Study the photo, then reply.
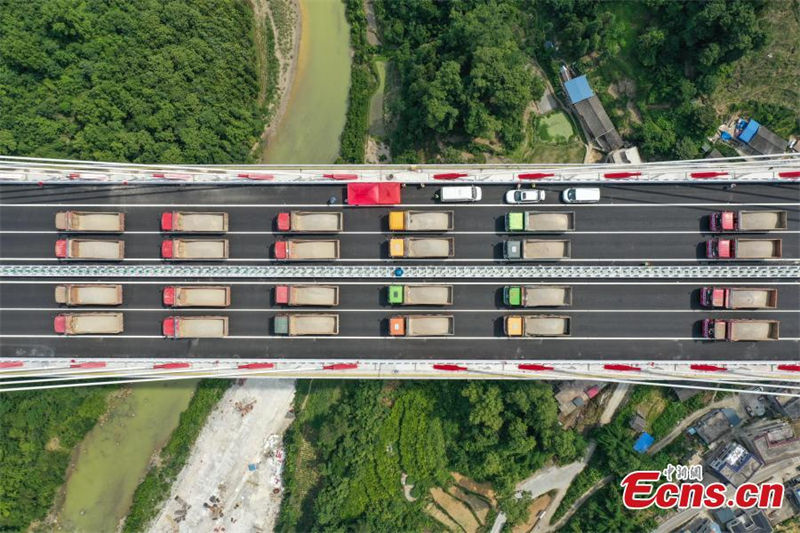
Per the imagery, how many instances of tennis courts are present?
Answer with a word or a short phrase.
0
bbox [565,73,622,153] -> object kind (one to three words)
shed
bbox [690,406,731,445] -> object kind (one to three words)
house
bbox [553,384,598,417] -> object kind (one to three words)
house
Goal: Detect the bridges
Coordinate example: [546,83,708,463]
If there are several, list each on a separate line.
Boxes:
[0,156,800,396]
